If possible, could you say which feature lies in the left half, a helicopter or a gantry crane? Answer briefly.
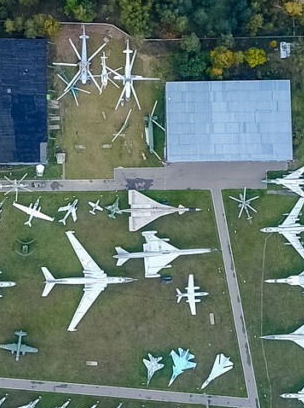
helicopter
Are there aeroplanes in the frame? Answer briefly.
Yes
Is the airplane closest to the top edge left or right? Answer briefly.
right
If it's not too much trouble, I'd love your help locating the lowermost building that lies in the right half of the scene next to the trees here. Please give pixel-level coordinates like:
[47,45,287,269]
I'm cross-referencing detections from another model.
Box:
[163,80,293,163]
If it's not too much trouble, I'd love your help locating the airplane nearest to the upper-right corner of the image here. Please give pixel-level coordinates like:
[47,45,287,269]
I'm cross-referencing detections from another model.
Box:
[264,165,304,199]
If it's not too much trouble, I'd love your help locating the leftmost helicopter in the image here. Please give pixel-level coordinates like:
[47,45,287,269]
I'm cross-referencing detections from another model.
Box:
[0,174,32,201]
